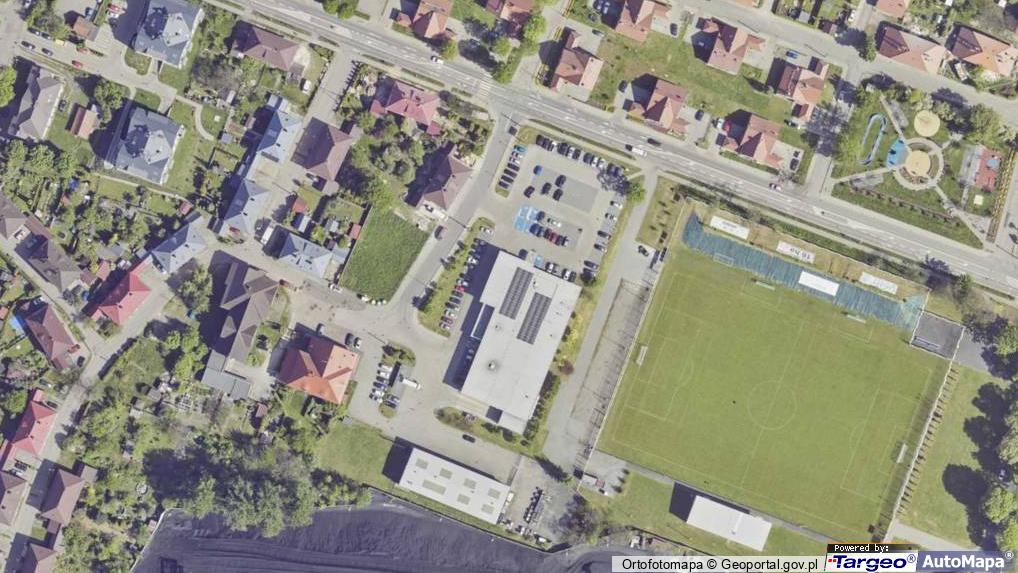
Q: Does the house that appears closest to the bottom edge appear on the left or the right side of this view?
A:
left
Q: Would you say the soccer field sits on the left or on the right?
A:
right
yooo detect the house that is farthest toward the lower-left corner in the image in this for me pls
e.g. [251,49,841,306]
[19,539,63,573]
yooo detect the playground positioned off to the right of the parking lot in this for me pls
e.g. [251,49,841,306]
[831,96,1000,249]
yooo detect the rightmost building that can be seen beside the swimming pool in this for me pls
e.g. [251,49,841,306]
[25,304,79,371]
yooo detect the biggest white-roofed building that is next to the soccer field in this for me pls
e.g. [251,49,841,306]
[460,249,583,435]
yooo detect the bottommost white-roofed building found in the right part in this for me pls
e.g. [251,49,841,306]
[686,494,772,552]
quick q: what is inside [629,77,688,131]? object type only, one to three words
house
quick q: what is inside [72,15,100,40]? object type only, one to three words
building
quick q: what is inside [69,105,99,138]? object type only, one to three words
shed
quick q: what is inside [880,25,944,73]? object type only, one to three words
house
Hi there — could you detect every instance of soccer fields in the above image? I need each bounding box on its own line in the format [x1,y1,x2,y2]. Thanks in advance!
[597,204,950,543]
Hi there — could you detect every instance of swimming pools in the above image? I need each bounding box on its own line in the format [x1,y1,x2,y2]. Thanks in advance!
[7,314,25,333]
